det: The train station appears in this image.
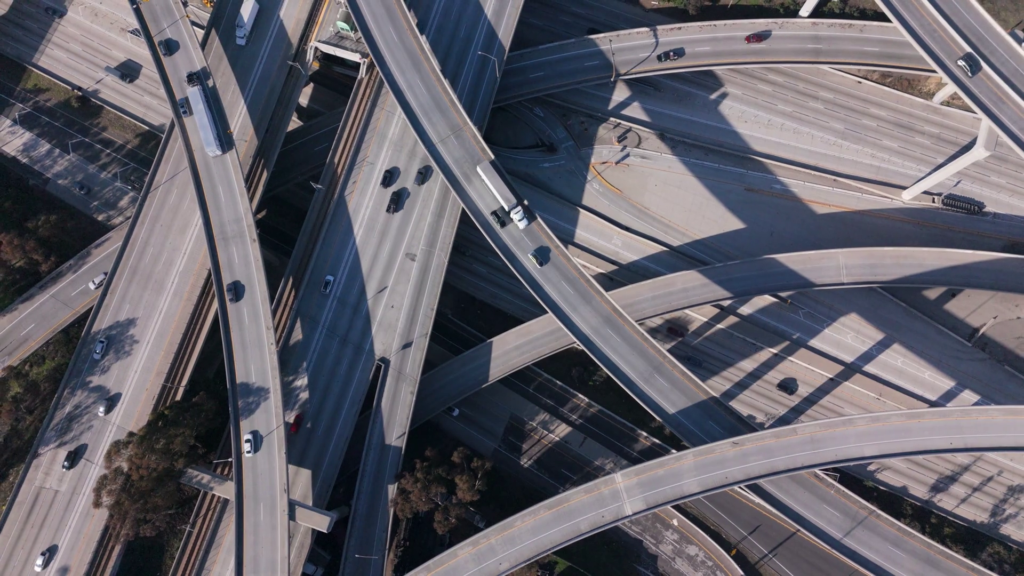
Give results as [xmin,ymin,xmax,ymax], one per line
[295,0,367,102]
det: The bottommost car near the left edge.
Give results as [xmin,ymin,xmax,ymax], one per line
[34,549,51,572]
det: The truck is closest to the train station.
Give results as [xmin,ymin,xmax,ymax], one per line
[235,0,260,48]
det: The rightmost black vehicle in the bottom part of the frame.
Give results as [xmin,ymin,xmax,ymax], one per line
[777,379,797,394]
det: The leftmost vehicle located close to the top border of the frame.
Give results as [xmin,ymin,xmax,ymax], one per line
[44,4,62,17]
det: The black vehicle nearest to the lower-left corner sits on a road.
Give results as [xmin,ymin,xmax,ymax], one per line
[61,449,77,472]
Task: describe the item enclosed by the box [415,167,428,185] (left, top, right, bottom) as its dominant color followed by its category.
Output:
black vehicle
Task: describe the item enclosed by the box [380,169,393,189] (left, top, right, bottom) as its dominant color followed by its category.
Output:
black vehicle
